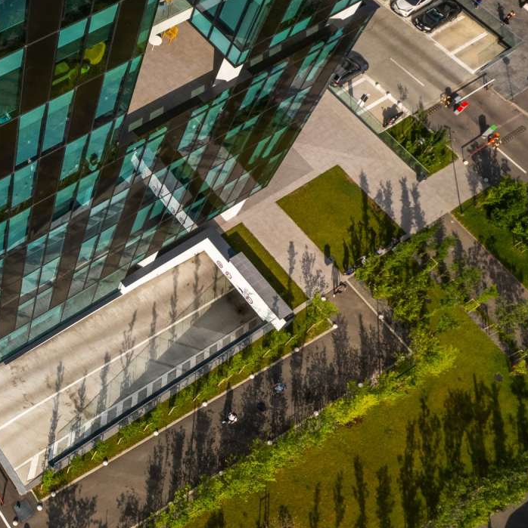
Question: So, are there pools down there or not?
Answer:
No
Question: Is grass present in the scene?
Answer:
Yes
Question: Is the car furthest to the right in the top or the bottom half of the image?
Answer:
top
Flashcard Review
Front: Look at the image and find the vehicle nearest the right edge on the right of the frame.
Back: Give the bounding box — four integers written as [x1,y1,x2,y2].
[416,0,459,32]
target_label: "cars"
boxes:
[416,0,459,32]
[393,0,431,17]
[331,53,369,87]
